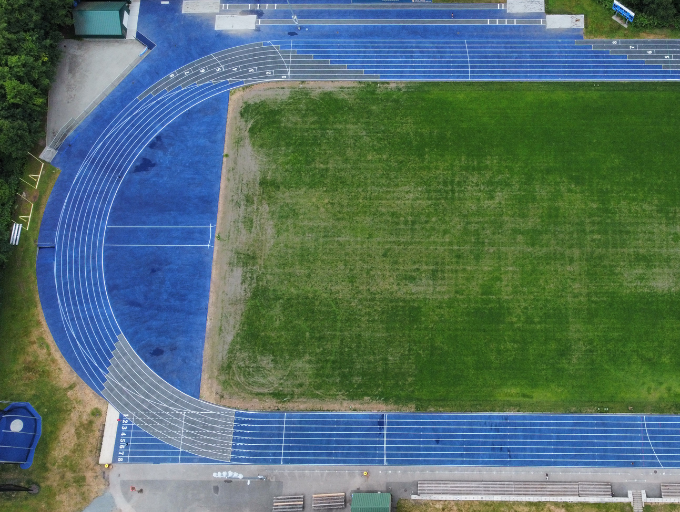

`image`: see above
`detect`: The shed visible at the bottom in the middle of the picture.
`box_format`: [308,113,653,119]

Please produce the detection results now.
[351,491,392,512]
